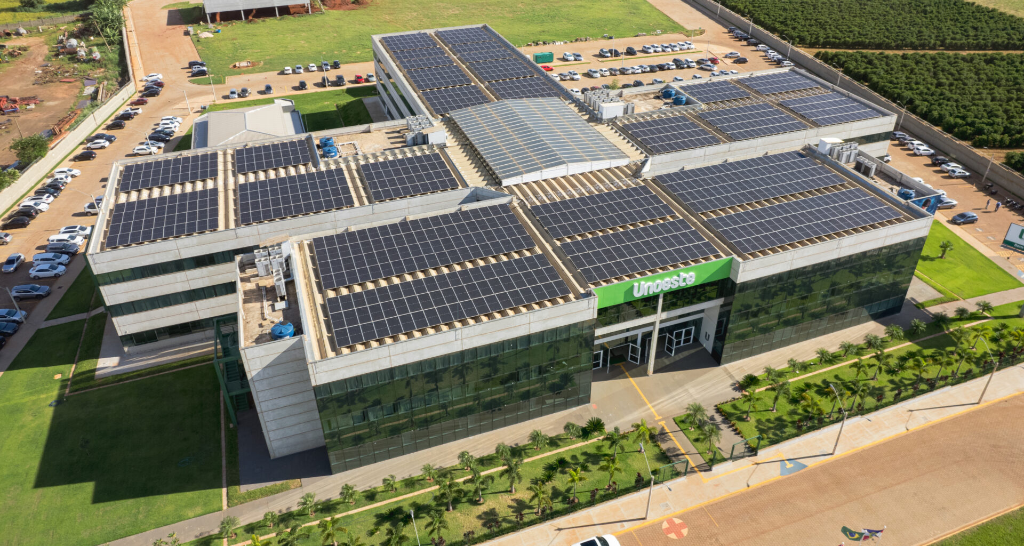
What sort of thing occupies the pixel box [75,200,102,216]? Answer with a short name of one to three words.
car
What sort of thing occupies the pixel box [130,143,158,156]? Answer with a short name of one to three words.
vehicle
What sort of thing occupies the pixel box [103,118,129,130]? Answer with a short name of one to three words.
vehicle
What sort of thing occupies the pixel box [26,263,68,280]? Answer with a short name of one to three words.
car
